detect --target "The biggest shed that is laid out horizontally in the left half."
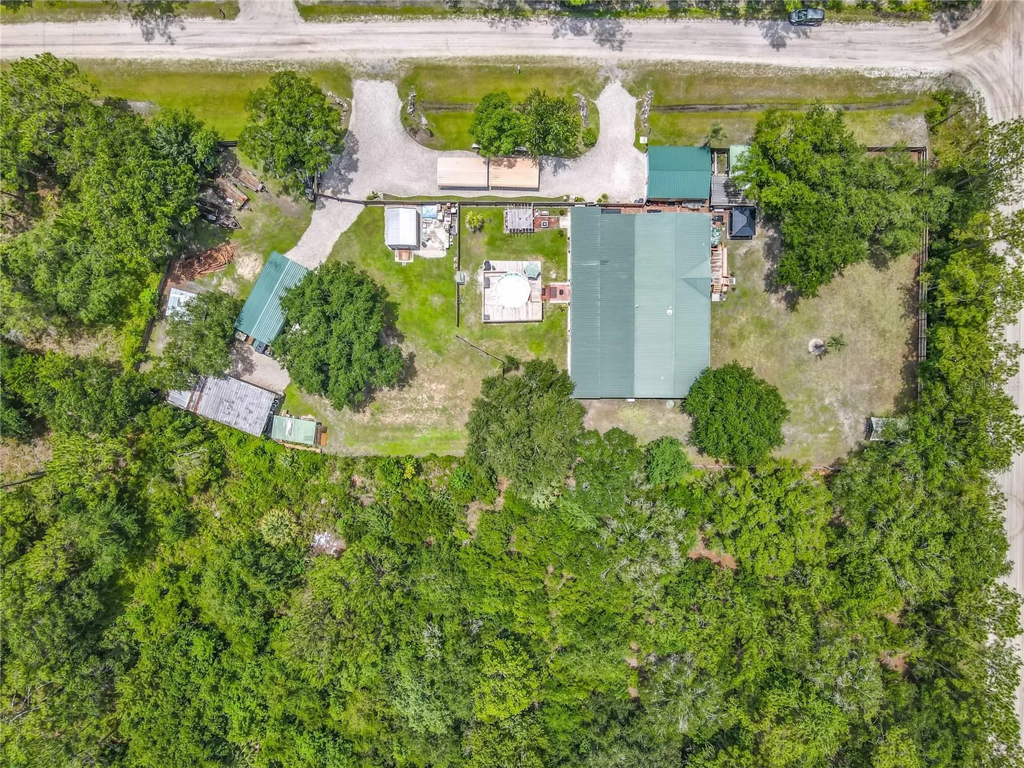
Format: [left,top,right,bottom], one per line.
[168,374,278,437]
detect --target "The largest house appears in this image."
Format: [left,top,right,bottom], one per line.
[569,206,714,399]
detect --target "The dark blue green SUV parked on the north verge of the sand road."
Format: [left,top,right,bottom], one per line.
[791,6,826,25]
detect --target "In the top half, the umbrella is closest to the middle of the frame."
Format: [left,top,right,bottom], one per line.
[525,264,540,277]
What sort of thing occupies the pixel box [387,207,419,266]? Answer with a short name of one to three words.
shed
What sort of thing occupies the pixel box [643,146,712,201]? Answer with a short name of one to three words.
building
